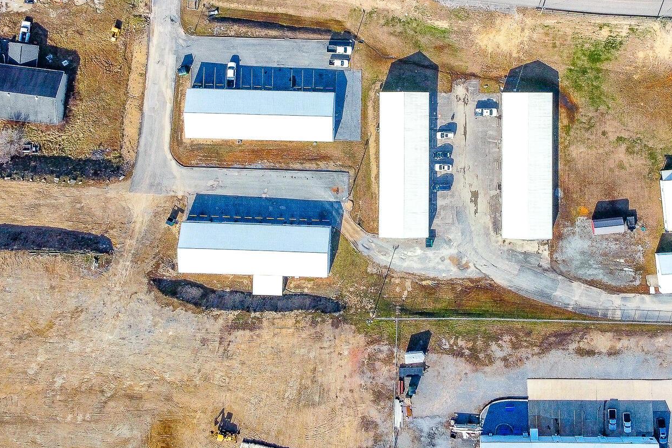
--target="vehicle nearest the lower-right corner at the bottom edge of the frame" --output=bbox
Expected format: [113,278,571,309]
[656,416,668,442]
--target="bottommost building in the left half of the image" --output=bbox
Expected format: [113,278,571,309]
[177,220,332,296]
